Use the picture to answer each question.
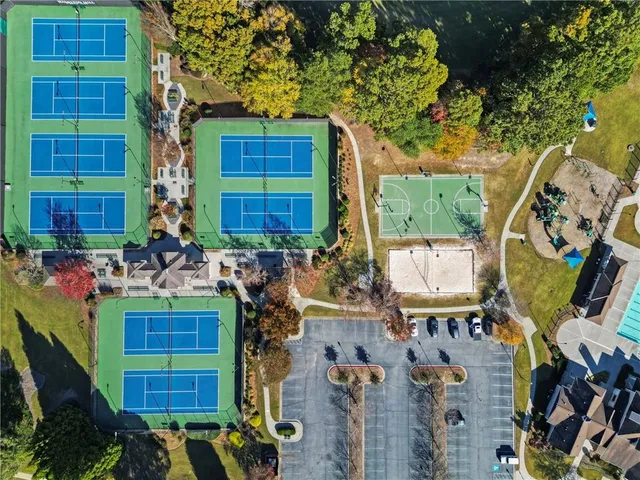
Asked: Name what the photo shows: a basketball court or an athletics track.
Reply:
basketball court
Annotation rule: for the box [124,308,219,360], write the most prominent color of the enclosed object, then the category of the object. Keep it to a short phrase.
blue tennis court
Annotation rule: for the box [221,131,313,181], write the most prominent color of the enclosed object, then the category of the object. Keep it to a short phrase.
blue tennis court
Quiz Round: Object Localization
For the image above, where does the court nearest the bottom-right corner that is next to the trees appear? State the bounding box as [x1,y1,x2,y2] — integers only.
[388,249,474,293]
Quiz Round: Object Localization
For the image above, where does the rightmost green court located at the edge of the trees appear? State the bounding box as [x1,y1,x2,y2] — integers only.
[379,176,484,238]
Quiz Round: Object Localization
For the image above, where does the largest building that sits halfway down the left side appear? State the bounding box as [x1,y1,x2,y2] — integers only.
[126,252,212,290]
